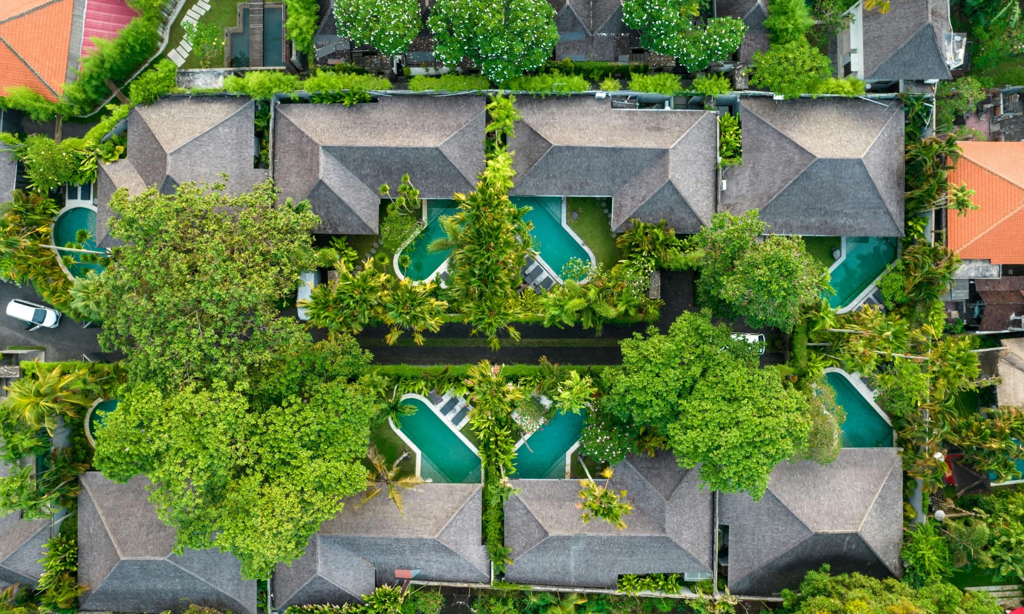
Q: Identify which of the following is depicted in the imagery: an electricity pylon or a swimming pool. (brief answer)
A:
swimming pool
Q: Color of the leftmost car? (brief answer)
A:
white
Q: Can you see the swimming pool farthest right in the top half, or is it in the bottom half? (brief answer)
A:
bottom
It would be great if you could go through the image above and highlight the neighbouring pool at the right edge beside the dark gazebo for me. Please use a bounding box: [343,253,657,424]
[990,432,1024,485]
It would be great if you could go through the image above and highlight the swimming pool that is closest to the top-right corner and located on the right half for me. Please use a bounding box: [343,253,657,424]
[806,237,905,319]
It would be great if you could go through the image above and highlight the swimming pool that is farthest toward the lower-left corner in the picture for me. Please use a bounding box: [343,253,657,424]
[32,427,51,496]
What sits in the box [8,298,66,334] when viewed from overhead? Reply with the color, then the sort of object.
white car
